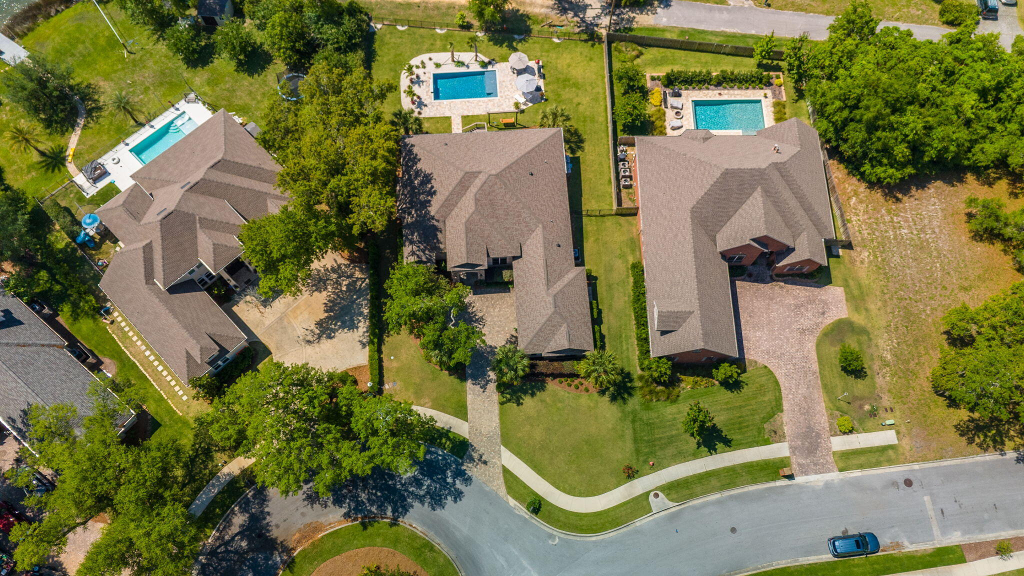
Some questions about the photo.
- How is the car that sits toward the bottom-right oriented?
horizontally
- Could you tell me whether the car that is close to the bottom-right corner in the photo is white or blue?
blue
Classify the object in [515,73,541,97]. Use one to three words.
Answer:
umbrella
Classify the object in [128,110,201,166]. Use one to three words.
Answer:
swimming pool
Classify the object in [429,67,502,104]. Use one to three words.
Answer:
swimming pool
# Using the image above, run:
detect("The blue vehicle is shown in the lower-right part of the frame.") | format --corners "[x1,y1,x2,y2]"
[826,531,880,559]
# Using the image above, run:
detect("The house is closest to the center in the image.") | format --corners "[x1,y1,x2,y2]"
[400,127,594,358]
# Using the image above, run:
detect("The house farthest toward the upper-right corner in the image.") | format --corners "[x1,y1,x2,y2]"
[632,117,836,365]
